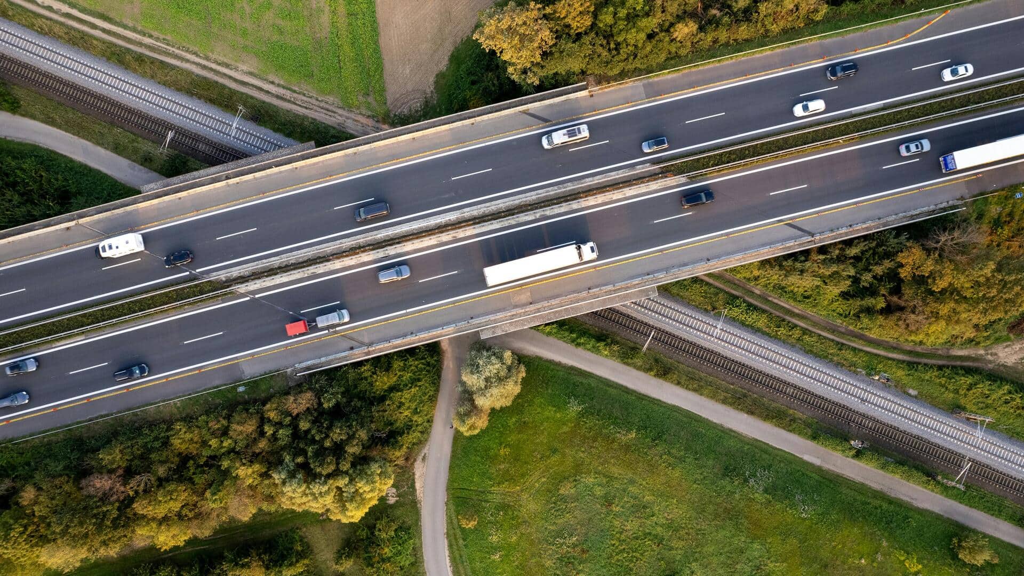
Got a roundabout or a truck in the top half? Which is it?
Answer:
truck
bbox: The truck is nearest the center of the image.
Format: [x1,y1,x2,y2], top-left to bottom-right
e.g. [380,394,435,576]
[483,240,598,286]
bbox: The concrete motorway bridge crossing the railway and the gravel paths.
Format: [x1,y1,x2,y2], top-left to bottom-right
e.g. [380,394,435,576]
[0,81,968,376]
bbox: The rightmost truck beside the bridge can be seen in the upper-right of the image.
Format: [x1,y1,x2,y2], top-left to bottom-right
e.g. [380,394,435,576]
[940,136,1024,173]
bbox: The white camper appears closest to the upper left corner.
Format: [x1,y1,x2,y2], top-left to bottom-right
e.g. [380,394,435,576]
[96,232,149,260]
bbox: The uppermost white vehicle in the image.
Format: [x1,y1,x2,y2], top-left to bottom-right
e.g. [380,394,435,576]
[938,64,973,83]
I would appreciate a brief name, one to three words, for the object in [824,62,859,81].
car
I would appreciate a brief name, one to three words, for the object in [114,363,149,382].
car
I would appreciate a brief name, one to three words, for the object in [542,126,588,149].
vehicle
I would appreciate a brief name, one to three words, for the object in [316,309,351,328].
vehicle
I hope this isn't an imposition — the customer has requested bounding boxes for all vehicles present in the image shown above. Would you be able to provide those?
[791,100,824,118]
[355,202,390,221]
[824,62,859,81]
[0,390,31,409]
[96,232,149,260]
[897,138,929,156]
[938,64,973,83]
[542,126,588,149]
[940,136,1024,173]
[378,264,411,283]
[5,357,40,376]
[641,136,669,153]
[114,363,149,382]
[316,309,351,328]
[681,190,714,208]
[164,250,195,267]
[483,240,598,286]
